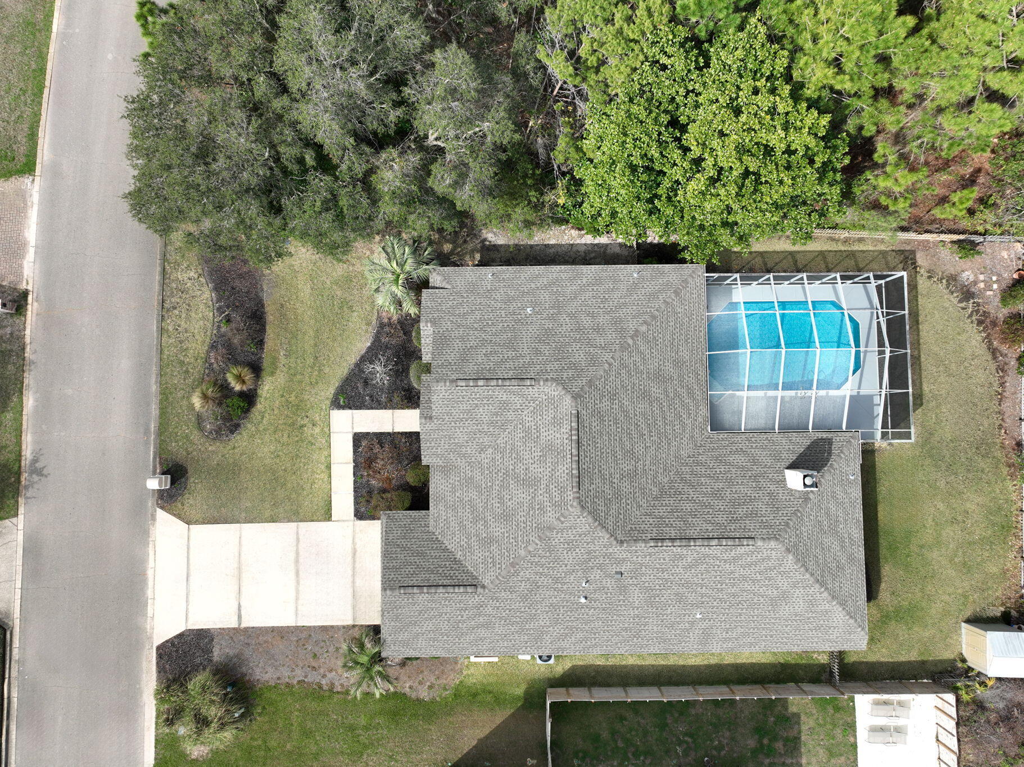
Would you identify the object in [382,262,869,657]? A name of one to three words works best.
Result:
house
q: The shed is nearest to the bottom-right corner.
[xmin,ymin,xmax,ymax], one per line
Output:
[962,621,1024,677]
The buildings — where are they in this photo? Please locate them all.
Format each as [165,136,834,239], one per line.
[962,621,1024,677]
[382,262,869,657]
